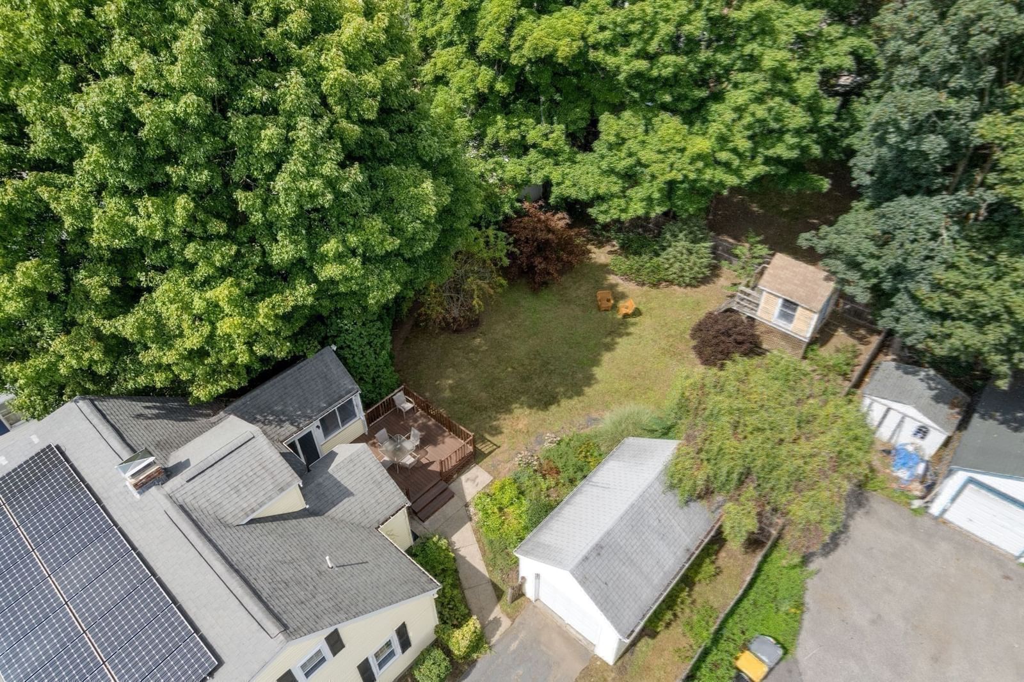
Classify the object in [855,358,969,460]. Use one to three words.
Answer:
shed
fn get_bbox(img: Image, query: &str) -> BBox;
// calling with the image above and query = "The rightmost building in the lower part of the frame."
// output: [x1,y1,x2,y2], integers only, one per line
[930,372,1024,570]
